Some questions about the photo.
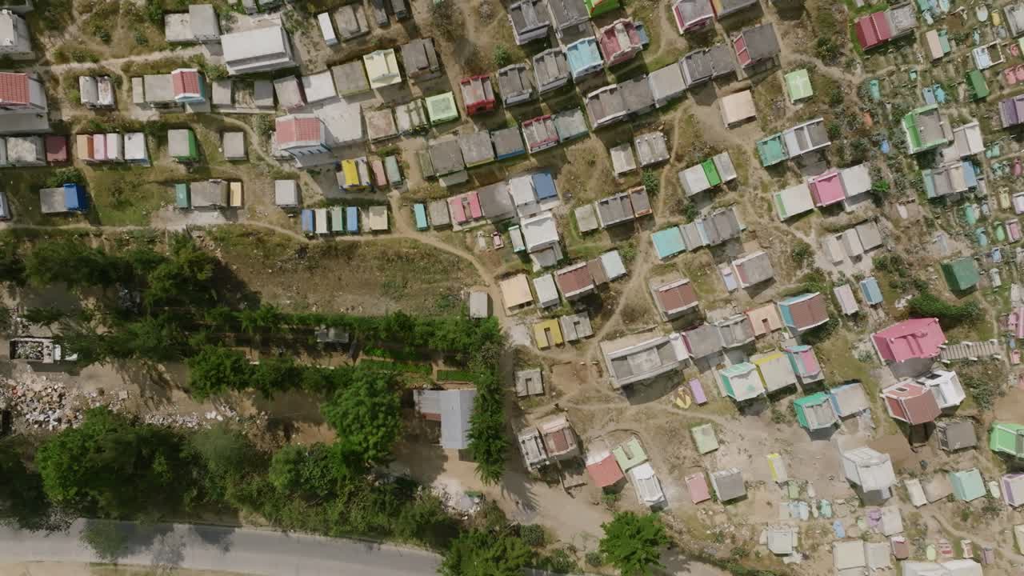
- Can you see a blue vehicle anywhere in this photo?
No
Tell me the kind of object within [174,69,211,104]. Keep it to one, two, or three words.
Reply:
building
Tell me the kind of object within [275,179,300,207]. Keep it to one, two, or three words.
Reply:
building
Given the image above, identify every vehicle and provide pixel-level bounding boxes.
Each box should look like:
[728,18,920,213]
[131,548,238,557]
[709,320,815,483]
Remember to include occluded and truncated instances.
[9,339,88,364]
